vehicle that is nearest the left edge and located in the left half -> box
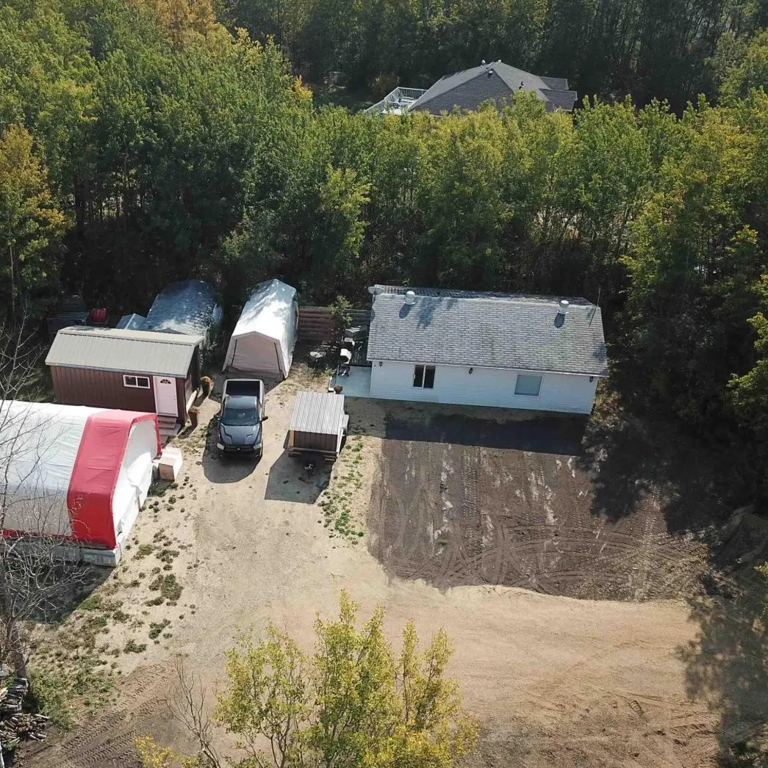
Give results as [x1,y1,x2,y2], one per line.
[211,375,267,459]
